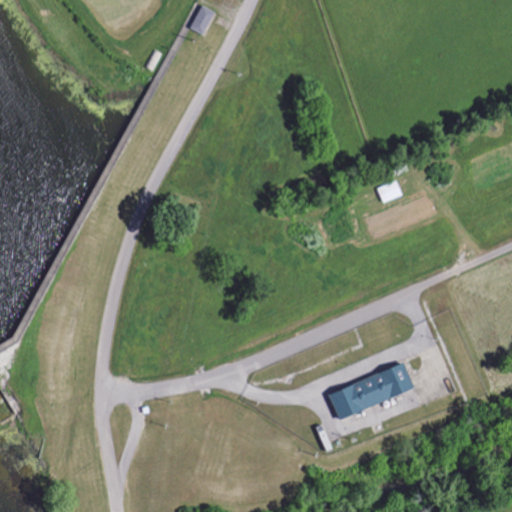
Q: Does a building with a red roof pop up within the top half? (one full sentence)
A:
No, no building with a red roof is visible within the top half.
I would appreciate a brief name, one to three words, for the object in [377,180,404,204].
barn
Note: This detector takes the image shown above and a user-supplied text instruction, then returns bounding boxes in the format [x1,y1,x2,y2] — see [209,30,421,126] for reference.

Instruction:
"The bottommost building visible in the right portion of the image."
[329,364,414,418]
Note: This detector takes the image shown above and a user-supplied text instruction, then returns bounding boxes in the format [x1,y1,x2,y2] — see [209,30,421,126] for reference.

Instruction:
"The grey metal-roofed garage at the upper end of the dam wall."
[189,5,216,35]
